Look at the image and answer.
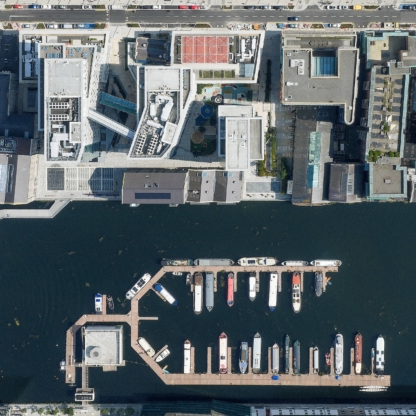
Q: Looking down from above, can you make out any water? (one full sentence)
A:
Yes, there's water in this view.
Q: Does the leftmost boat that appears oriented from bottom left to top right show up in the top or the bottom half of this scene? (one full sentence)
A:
The leftmost boat that appears oriented from bottom left to top right sits in the bottom half of the picture.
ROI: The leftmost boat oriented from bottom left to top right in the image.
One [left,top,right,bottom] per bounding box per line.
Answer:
[127,274,150,299]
